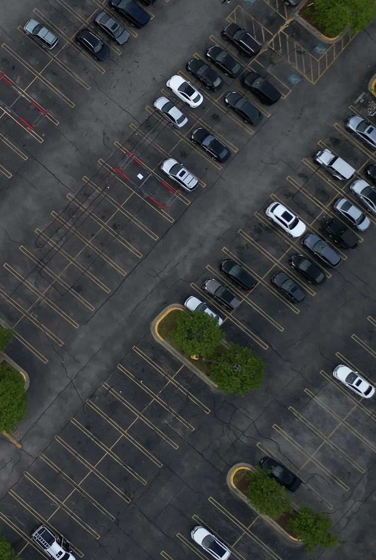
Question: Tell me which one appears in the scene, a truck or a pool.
truck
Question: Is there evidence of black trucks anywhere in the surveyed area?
Yes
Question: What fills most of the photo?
paved ground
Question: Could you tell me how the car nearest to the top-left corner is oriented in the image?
on a diagonal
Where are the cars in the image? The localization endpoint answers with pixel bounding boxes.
[364,162,376,182]
[288,252,330,288]
[221,23,262,58]
[314,147,358,182]
[300,234,343,269]
[110,0,151,28]
[32,527,75,560]
[239,69,285,107]
[267,270,308,305]
[75,26,114,62]
[333,364,376,400]
[204,45,246,79]
[185,58,225,93]
[159,158,200,192]
[191,128,232,163]
[22,18,61,51]
[223,92,265,127]
[345,117,376,150]
[182,293,224,319]
[350,182,376,214]
[332,195,371,231]
[219,257,259,293]
[266,203,305,238]
[260,456,301,494]
[190,526,231,560]
[165,75,206,109]
[93,9,131,45]
[151,96,191,130]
